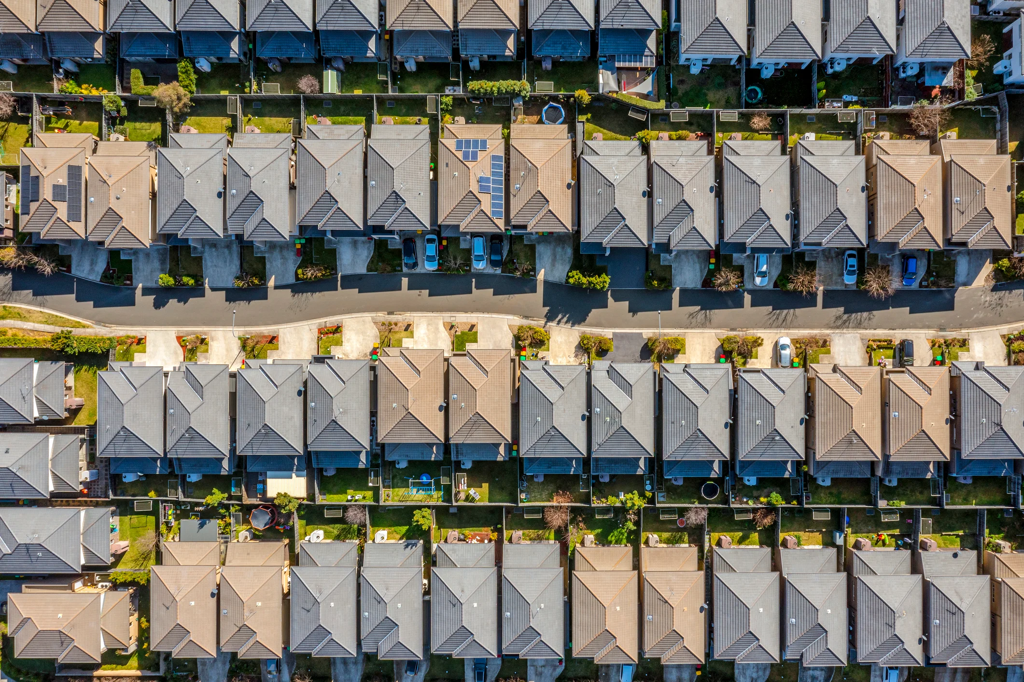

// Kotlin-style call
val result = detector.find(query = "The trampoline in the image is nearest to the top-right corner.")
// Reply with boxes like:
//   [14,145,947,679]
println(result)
[744,83,766,103]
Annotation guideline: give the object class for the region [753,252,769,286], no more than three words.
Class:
car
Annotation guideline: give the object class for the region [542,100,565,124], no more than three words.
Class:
trampoline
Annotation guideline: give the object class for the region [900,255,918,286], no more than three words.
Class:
car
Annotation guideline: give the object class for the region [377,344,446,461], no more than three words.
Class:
house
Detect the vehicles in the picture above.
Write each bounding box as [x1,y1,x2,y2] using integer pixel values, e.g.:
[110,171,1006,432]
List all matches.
[619,664,635,682]
[406,660,419,680]
[265,659,281,682]
[882,667,900,682]
[471,234,487,269]
[0,601,7,615]
[842,250,858,284]
[473,658,489,682]
[489,234,504,269]
[776,337,793,367]
[403,239,418,270]
[424,235,438,269]
[898,336,916,369]
[753,252,769,286]
[900,255,918,286]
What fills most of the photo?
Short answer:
buildings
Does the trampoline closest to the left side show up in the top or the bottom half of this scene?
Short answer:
bottom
